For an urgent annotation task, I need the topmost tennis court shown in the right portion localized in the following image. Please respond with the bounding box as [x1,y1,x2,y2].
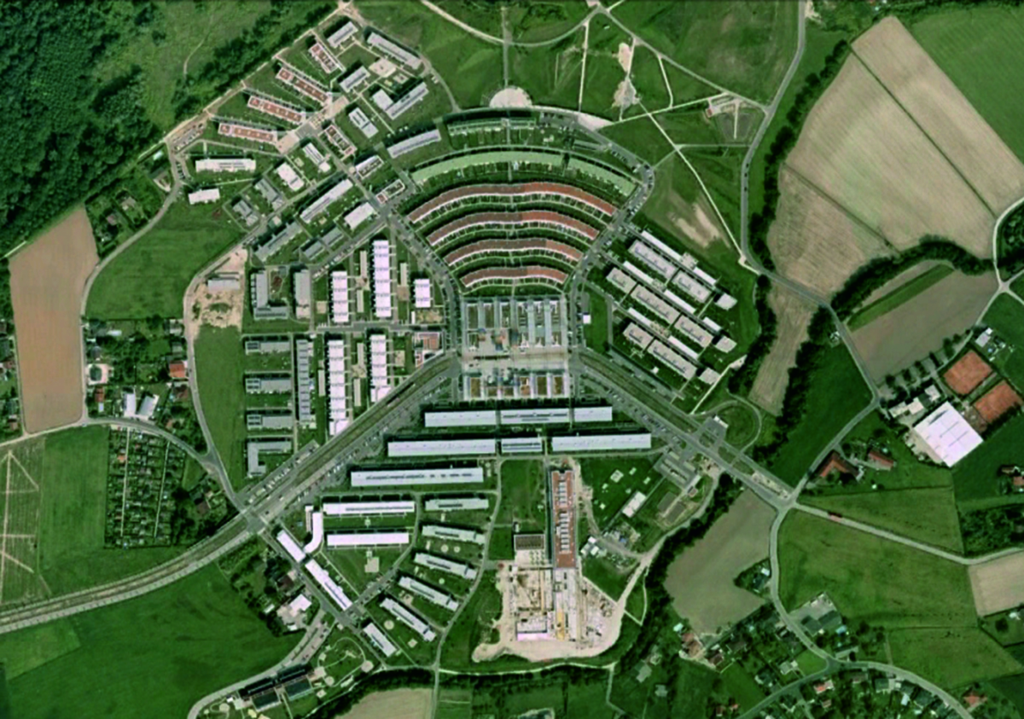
[944,351,992,394]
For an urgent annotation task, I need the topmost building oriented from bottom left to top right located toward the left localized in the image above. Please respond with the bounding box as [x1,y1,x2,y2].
[327,21,359,48]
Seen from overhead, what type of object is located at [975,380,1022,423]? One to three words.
tennis court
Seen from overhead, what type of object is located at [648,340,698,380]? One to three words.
building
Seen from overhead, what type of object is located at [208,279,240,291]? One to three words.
shed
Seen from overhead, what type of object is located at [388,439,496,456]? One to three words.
building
